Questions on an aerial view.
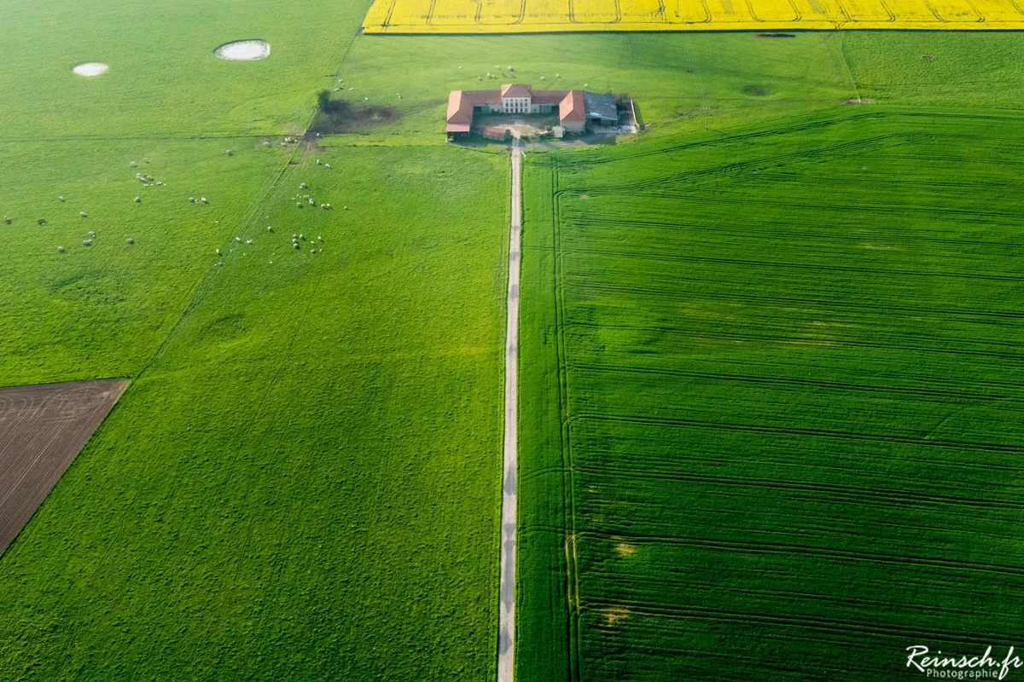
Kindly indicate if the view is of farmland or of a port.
farmland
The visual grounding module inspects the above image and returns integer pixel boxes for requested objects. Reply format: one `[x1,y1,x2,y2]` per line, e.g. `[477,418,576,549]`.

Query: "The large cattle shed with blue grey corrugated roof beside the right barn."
[583,90,620,126]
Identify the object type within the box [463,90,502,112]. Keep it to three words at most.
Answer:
barn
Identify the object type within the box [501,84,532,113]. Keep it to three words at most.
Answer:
house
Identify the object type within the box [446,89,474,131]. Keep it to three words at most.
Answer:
barn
